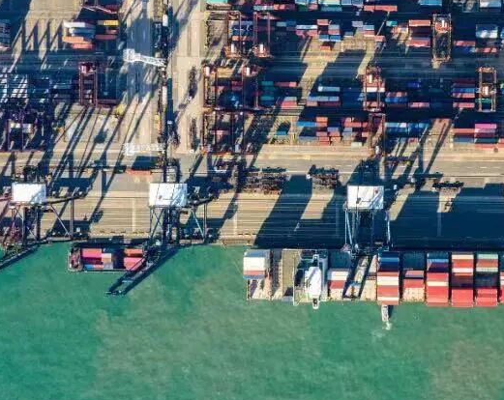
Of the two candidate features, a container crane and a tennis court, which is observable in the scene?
container crane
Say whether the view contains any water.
Yes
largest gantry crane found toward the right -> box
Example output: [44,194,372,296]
[340,170,398,296]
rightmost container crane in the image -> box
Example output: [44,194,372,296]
[474,61,496,116]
